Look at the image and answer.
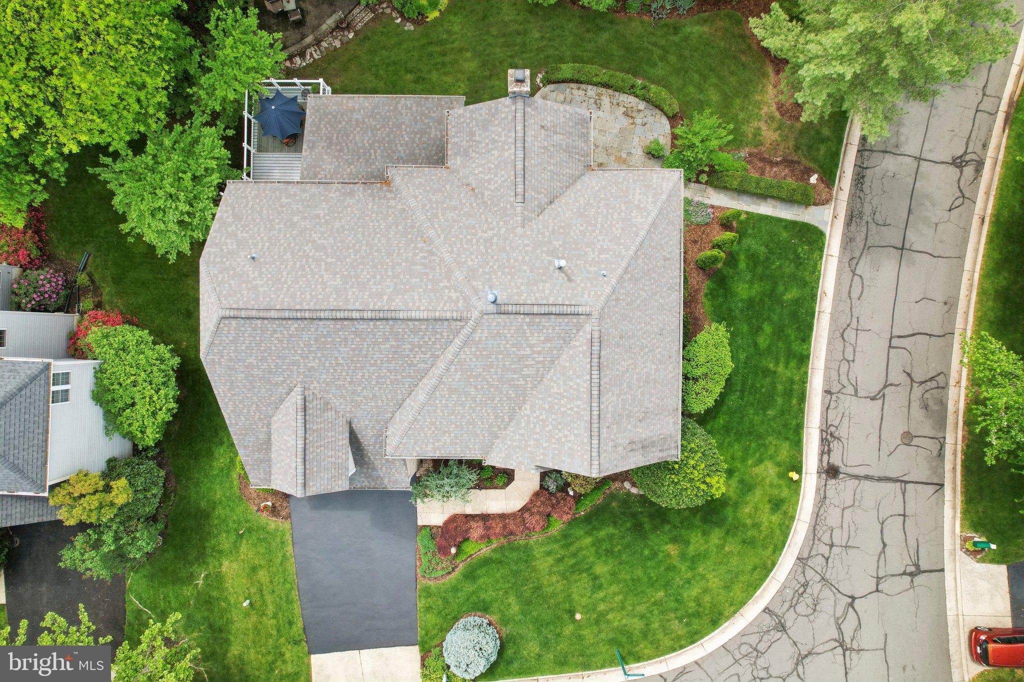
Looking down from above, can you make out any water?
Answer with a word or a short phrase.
No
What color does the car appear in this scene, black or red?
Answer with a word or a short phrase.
red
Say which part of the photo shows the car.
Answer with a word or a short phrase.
bottom right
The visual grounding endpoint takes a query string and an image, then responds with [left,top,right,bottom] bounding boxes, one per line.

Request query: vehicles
[967,622,1024,669]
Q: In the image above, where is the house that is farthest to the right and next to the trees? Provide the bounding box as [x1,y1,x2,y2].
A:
[198,65,686,498]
